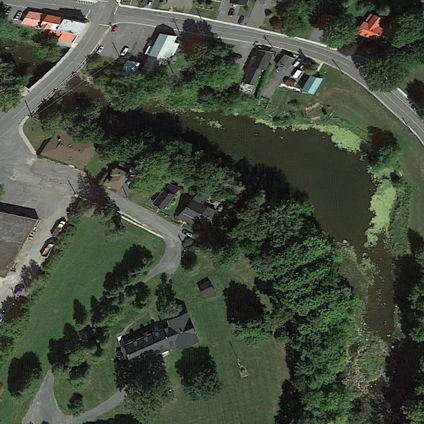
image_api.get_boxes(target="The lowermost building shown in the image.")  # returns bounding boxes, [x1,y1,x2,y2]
[116,310,201,361]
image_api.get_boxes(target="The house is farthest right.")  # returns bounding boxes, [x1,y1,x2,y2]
[357,13,385,40]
